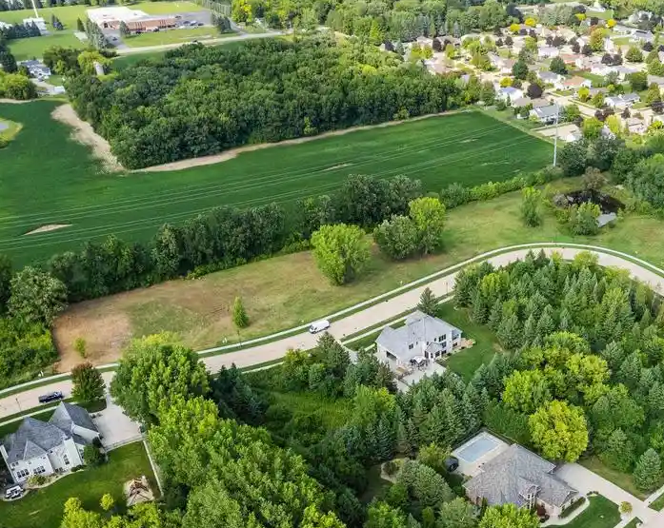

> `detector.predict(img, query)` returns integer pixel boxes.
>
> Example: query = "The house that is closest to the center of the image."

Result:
[377,306,462,362]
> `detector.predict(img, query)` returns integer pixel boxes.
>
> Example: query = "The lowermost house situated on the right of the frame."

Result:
[459,446,580,521]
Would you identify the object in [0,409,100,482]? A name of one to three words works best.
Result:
house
